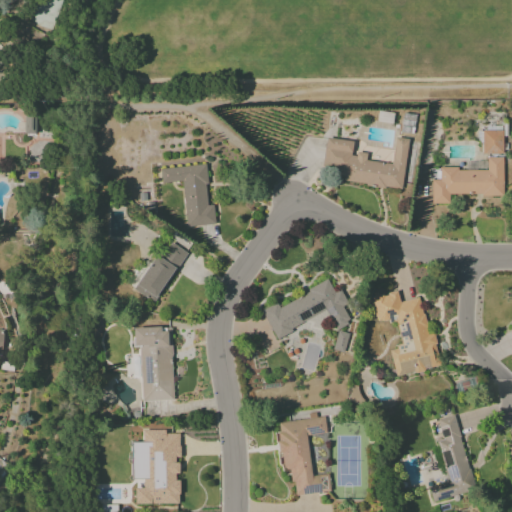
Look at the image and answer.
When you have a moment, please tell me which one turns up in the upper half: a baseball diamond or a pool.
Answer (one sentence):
The one visible in the upper half is a pool.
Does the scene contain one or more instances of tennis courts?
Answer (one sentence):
Yes, there's a tennis court down there.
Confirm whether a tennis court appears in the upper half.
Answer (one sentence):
No, no tennis court can be made out in the upper half.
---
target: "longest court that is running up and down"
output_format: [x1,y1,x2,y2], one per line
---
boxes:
[332,424,367,499]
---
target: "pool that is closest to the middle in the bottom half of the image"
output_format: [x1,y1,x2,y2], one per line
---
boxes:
[302,342,322,372]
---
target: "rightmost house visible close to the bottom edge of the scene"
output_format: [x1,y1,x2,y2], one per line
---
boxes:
[430,414,476,505]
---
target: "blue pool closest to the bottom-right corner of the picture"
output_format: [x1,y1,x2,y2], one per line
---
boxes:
[402,457,424,488]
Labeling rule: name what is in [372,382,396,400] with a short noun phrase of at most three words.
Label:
swimming pool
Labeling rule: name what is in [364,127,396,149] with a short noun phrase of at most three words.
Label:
swimming pool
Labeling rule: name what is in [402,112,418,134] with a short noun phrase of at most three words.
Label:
greenhouse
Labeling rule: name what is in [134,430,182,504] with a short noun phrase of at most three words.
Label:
house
